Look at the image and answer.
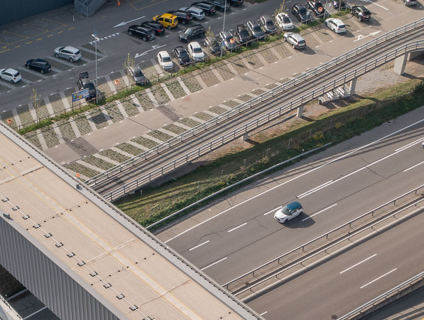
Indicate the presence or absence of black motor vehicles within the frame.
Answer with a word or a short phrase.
Yes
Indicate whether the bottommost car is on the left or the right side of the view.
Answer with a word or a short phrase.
right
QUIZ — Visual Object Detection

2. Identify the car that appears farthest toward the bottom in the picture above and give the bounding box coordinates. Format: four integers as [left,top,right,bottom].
[272,204,306,225]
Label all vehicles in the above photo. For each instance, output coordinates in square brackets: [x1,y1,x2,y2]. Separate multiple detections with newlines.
[151,13,179,30]
[127,25,156,41]
[174,46,190,63]
[259,14,277,33]
[235,23,252,42]
[157,50,173,69]
[180,6,206,21]
[292,2,311,21]
[178,24,207,42]
[125,64,146,86]
[246,19,265,38]
[226,0,245,7]
[346,5,375,21]
[329,0,347,9]
[189,1,218,15]
[166,8,194,23]
[203,34,221,55]
[321,19,351,34]
[272,204,306,225]
[77,70,96,97]
[402,0,418,8]
[24,61,52,76]
[139,21,167,34]
[218,29,236,48]
[275,11,293,30]
[187,41,204,60]
[307,0,324,16]
[281,33,309,50]
[53,46,83,63]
